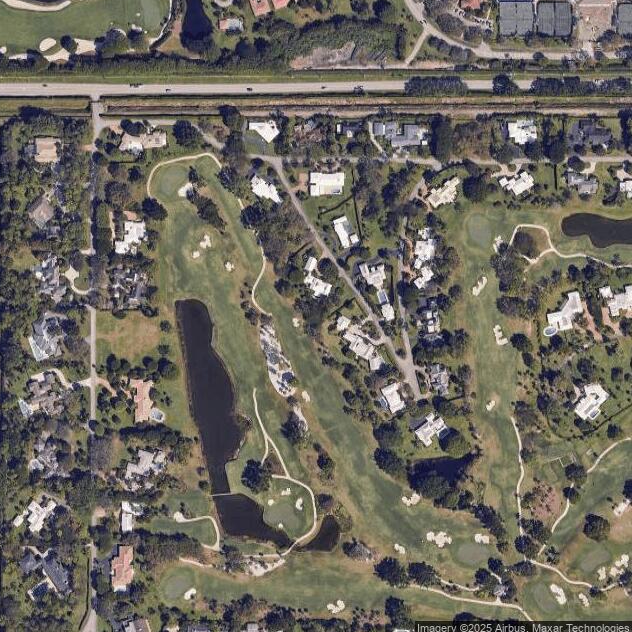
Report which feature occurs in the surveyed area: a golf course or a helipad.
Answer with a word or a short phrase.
golf course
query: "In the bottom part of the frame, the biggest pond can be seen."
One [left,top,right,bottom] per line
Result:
[176,300,293,547]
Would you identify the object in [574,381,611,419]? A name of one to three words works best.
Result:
house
